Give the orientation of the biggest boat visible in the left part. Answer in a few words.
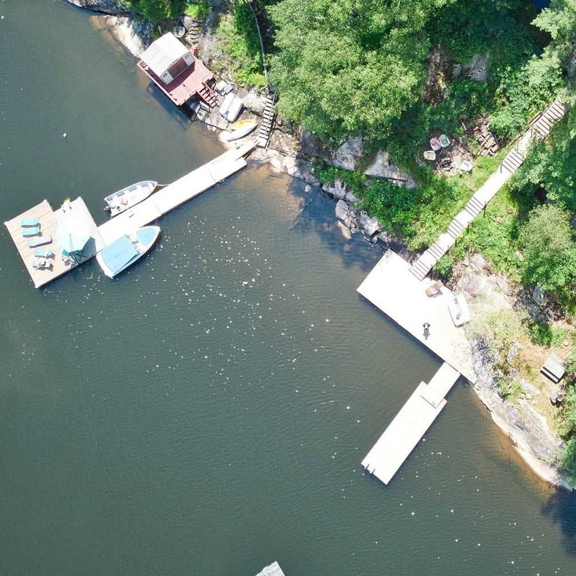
at an angle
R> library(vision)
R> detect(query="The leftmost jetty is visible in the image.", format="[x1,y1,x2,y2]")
[2,198,80,289]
